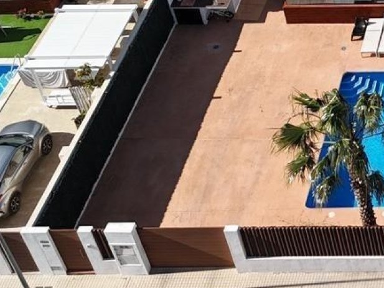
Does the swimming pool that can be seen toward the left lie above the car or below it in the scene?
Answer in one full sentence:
Within the scene, the swimming pool that can be seen toward the left can be found above the car.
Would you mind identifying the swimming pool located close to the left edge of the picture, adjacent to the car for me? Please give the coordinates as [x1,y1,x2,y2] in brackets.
[0,57,21,107]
